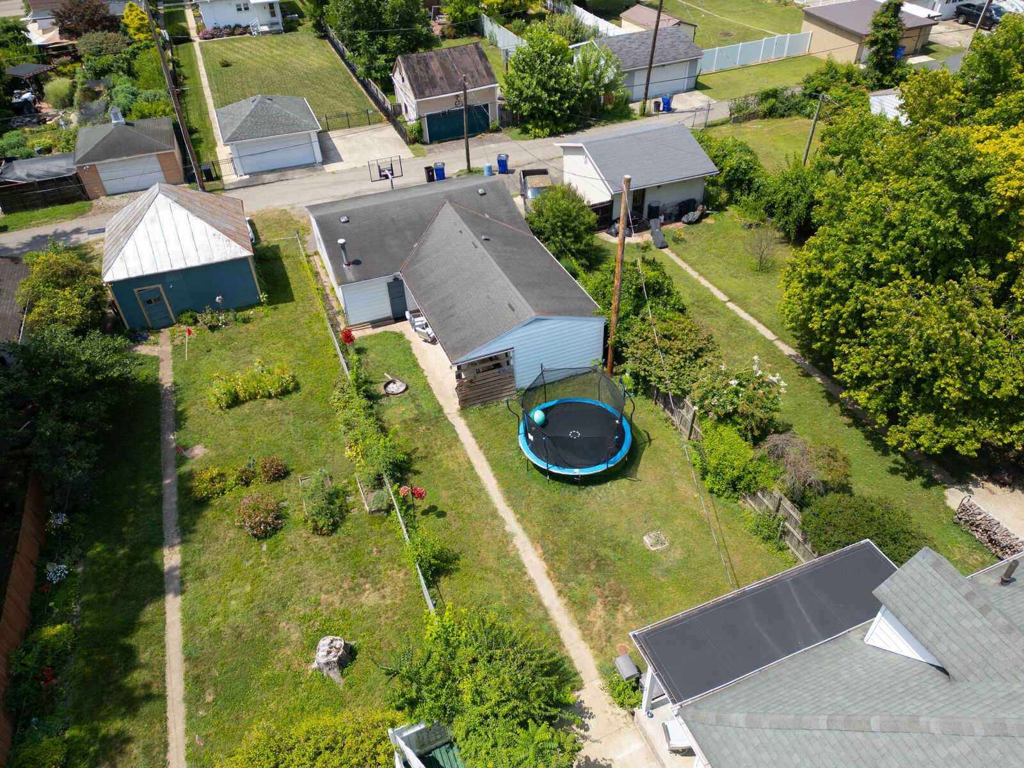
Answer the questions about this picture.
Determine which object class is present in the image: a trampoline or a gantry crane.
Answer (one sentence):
Visible in the photo is a trampoline.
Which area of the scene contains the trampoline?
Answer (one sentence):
The trampoline appears toward the center of the photo.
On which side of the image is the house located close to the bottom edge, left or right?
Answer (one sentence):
The house located close to the bottom edge sits on the right side.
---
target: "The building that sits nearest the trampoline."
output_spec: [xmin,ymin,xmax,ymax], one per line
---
[305,176,618,410]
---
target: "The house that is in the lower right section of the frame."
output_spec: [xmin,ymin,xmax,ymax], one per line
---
[629,538,1024,768]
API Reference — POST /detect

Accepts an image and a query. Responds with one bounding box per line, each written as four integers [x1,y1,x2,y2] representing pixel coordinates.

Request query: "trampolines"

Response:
[508,360,647,494]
